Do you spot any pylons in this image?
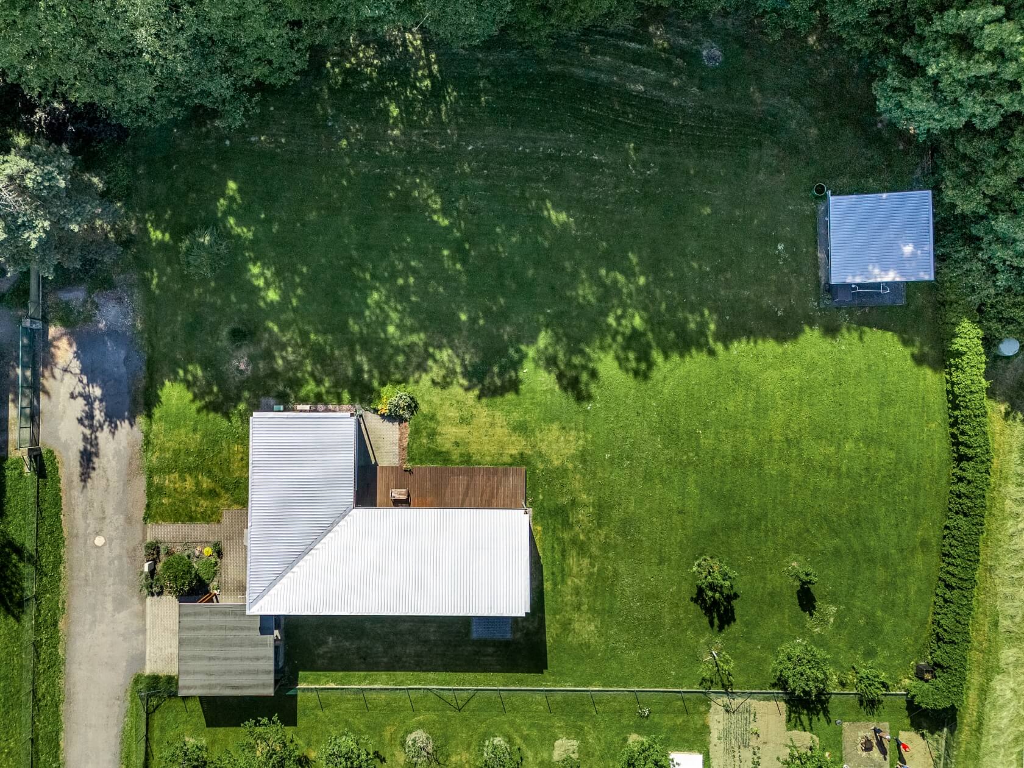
No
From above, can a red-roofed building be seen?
No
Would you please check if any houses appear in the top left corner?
No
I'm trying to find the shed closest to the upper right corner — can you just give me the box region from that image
[819,190,935,286]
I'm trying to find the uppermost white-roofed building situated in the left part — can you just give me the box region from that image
[238,412,530,616]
